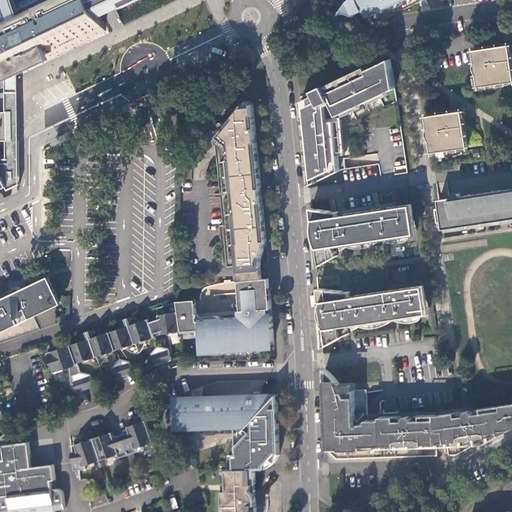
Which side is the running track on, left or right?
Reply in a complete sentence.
The running track is on the right side of the image.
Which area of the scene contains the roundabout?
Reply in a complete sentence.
Look in the top portion of the view to spot the roundabout.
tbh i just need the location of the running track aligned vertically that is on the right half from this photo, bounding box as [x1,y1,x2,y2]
[464,249,512,392]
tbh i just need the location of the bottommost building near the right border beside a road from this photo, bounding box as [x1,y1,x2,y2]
[321,370,512,460]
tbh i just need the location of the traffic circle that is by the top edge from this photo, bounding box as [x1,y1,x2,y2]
[222,0,280,60]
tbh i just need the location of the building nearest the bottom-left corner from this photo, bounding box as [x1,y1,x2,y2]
[0,444,68,512]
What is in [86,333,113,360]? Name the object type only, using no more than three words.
house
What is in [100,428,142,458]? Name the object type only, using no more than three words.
house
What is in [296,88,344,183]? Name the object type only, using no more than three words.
building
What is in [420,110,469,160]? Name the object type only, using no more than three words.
building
